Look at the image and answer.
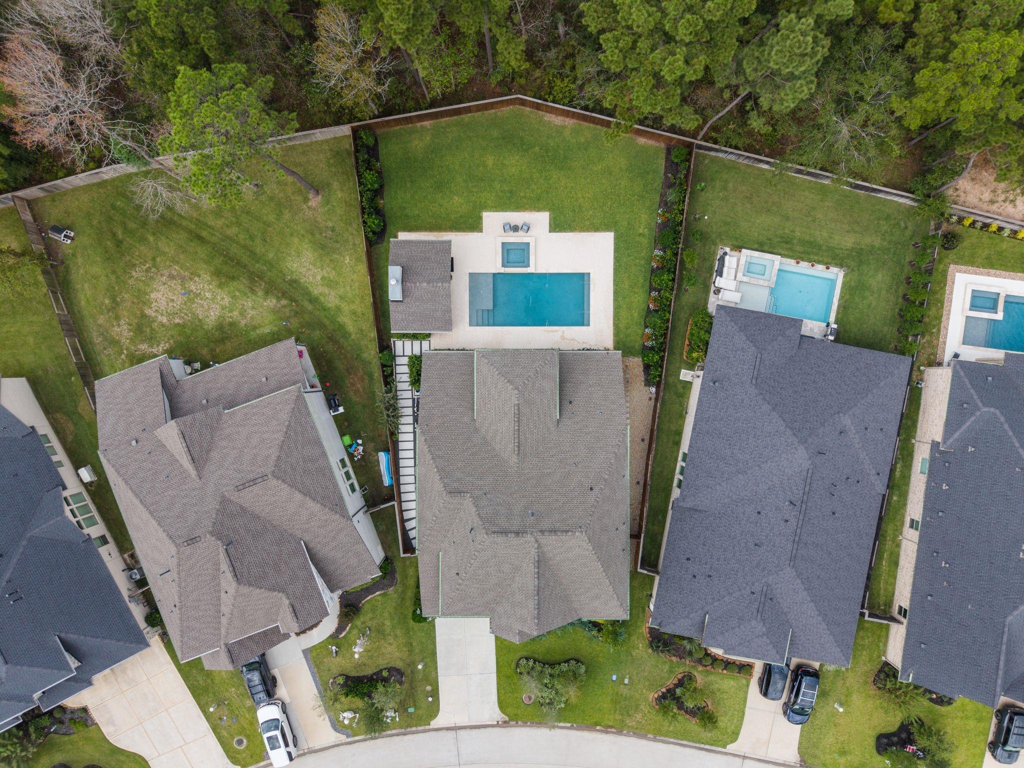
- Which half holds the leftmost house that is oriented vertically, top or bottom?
bottom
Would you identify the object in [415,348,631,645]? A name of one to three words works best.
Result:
house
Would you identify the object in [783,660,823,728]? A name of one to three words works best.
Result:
car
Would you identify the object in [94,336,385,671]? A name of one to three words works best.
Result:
house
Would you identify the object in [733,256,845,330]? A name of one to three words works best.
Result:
swimming pool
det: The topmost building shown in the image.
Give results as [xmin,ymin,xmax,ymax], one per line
[389,238,454,334]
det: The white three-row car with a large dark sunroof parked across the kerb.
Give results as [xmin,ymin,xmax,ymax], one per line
[257,695,300,768]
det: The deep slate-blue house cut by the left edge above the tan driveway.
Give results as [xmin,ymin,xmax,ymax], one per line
[0,378,153,731]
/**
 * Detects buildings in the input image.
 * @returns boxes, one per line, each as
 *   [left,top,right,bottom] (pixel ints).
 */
[0,378,153,731]
[389,238,454,334]
[885,351,1024,710]
[94,336,385,671]
[415,348,631,645]
[648,303,913,669]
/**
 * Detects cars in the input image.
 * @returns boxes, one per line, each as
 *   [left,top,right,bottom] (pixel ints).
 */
[783,660,823,728]
[257,695,300,768]
[986,699,1024,768]
[237,652,280,708]
[754,658,792,708]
